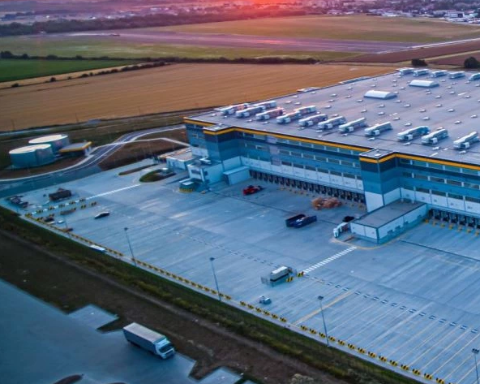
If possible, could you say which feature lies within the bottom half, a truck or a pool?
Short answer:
truck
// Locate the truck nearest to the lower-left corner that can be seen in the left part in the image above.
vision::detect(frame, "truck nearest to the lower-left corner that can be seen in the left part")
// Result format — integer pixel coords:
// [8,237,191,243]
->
[125,323,175,358]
